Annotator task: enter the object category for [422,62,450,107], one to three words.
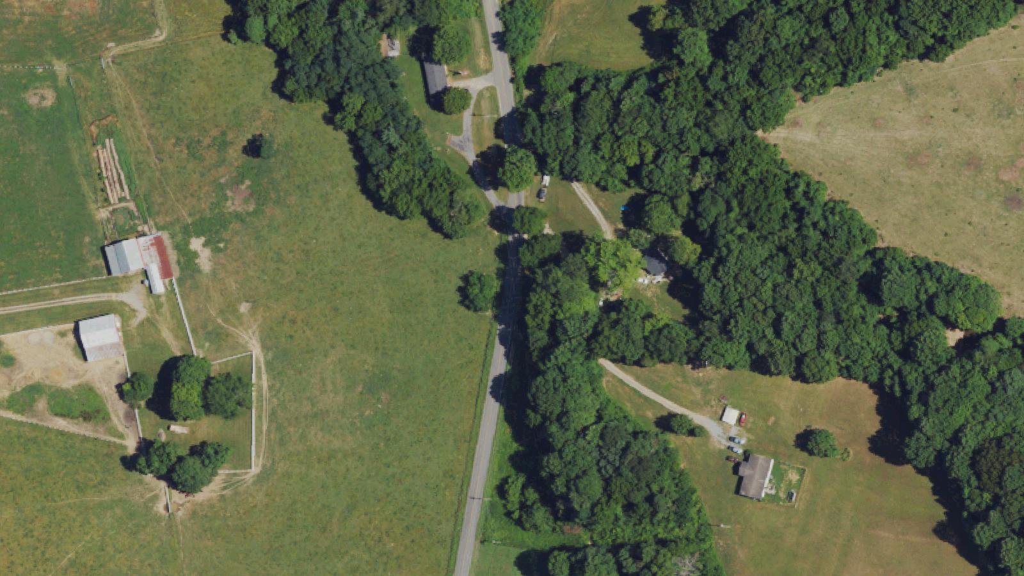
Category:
house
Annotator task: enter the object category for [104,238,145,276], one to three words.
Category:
barn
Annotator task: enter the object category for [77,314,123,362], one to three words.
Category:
barn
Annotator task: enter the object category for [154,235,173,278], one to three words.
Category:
shed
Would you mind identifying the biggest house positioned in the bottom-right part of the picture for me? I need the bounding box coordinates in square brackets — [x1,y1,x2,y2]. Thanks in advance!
[737,455,773,499]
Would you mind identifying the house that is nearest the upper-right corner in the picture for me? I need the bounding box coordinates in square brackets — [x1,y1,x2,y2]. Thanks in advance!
[642,255,666,276]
